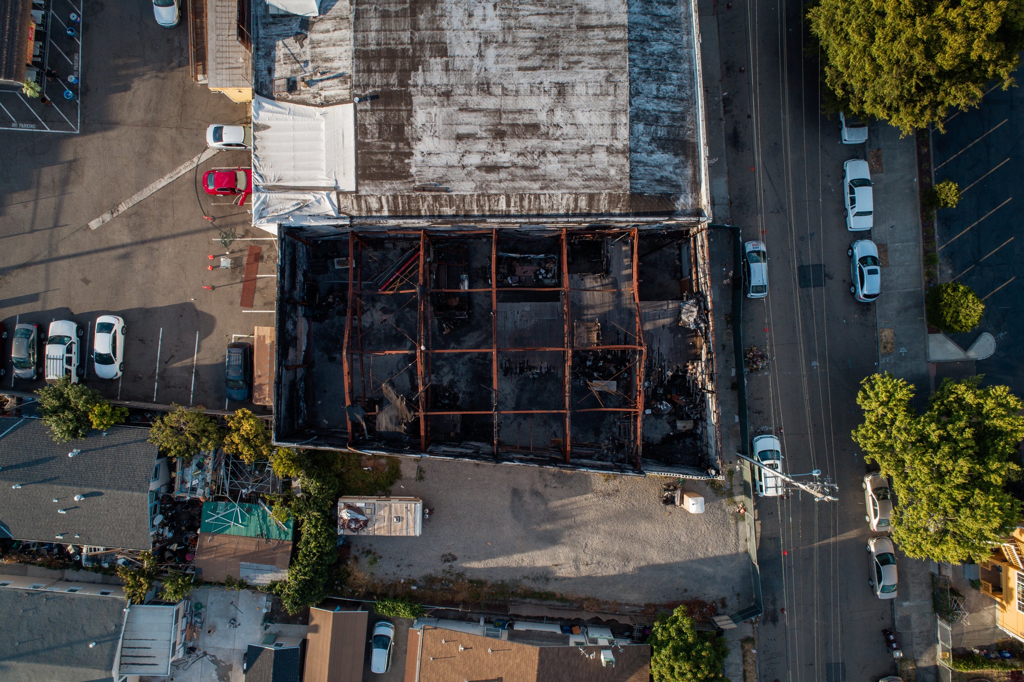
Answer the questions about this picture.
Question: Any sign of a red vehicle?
Yes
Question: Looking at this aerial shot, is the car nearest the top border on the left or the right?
left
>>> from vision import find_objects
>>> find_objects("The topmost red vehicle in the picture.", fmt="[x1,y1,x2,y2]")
[203,168,256,206]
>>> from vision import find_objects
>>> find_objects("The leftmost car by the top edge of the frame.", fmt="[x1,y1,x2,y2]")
[151,0,184,31]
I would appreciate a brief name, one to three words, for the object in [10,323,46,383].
car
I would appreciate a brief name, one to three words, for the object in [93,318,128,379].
car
